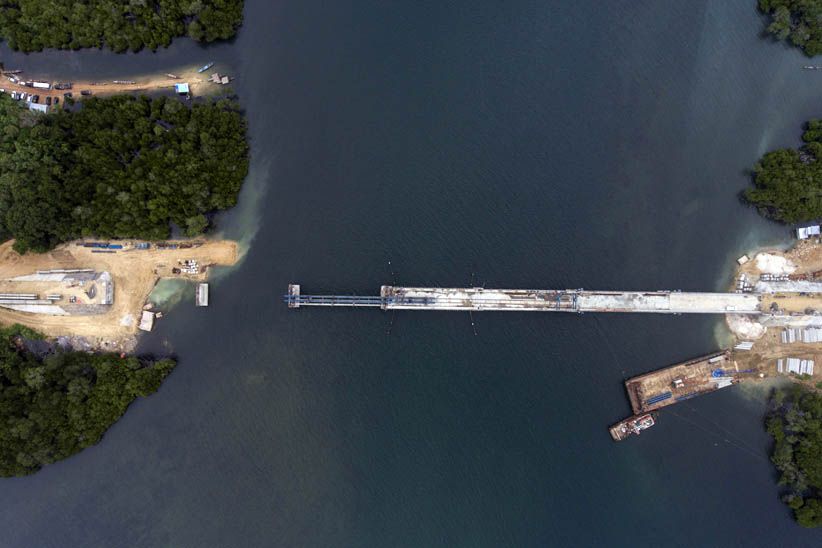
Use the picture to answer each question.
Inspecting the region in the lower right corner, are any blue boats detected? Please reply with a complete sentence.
No, I can find no blue boat in the lower right corner.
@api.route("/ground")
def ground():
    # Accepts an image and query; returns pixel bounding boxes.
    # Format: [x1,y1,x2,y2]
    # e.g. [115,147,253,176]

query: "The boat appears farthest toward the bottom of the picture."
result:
[609,414,655,440]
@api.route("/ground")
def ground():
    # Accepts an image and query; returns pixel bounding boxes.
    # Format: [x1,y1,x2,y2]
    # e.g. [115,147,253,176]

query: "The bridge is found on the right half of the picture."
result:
[382,286,767,315]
